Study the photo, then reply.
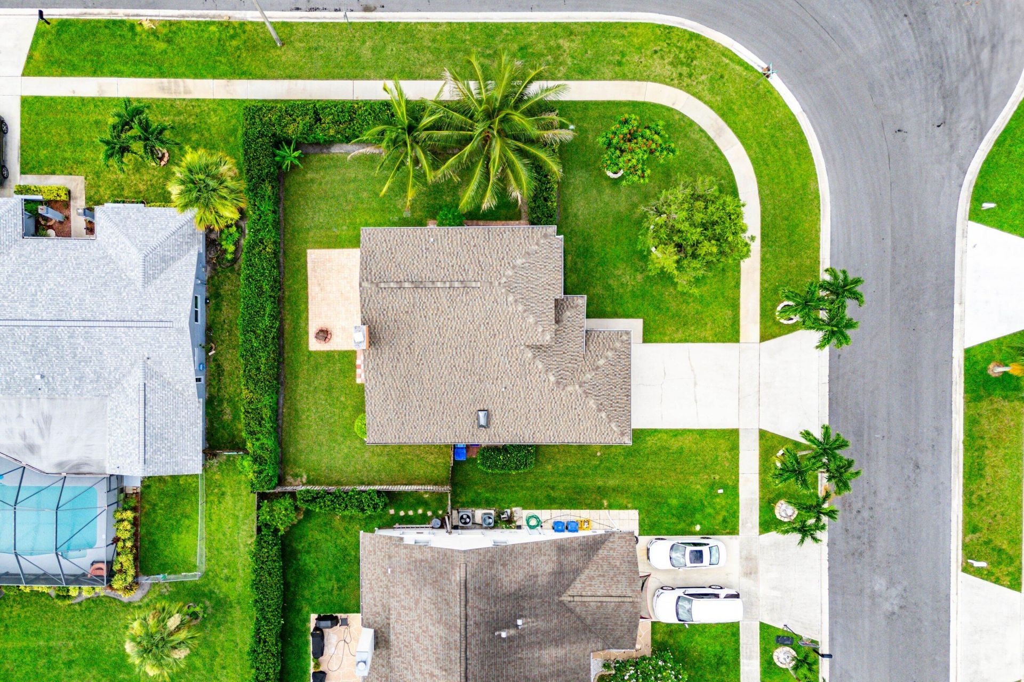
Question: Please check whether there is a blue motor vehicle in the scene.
No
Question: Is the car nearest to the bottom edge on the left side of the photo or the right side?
right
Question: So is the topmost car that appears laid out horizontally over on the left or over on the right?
right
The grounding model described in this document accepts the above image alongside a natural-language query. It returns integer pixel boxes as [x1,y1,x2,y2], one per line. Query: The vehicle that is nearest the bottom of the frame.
[650,582,742,626]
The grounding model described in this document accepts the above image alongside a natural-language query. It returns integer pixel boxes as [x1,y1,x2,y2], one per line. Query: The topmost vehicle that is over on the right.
[643,533,727,572]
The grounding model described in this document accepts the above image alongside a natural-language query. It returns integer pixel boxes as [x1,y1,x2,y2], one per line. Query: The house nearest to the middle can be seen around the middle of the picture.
[352,224,634,447]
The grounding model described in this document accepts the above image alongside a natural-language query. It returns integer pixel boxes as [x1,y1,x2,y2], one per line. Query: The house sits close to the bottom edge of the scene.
[355,525,641,682]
